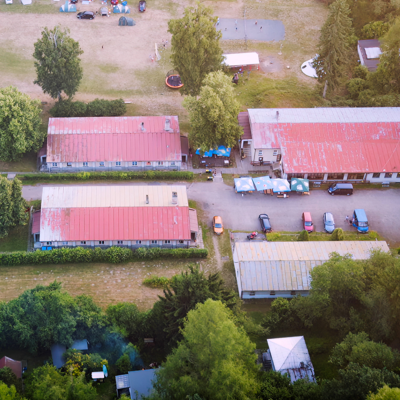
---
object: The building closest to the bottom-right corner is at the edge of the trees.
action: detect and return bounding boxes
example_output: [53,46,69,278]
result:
[260,336,315,393]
